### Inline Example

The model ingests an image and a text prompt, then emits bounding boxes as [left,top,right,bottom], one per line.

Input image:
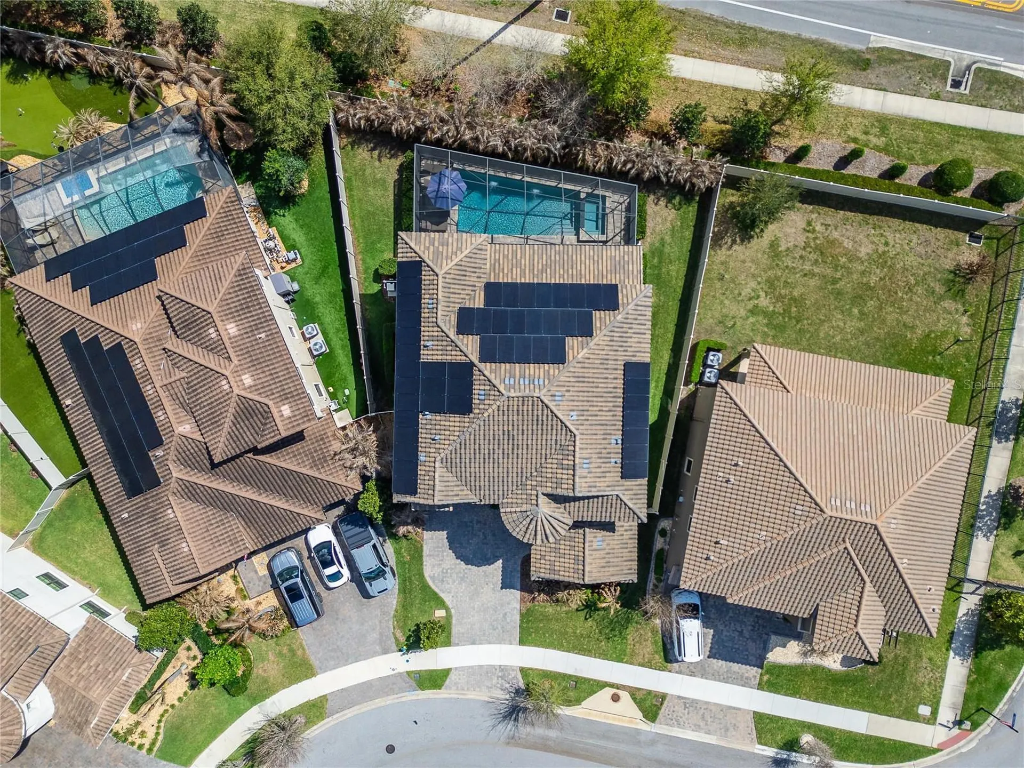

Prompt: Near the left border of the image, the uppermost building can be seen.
[6,185,362,604]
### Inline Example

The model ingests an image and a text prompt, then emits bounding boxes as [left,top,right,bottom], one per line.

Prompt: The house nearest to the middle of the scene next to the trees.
[391,231,654,585]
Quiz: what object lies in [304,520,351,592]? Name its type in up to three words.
car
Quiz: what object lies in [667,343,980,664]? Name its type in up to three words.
house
